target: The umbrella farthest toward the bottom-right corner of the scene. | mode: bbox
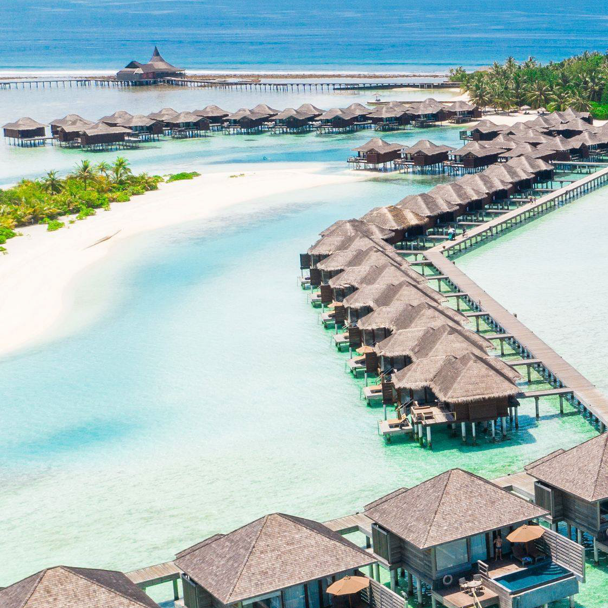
[501,523,545,567]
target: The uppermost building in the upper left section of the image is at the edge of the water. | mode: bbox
[107,44,184,94]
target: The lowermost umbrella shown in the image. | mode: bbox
[321,575,369,608]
